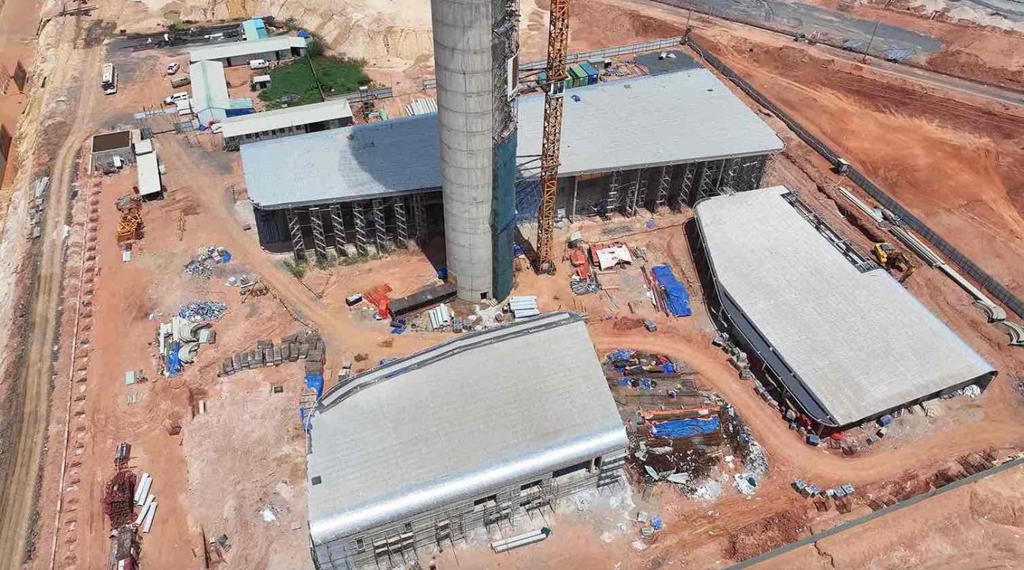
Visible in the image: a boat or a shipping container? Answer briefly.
shipping container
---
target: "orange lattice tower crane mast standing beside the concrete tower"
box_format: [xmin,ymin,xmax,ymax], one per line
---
[510,0,569,275]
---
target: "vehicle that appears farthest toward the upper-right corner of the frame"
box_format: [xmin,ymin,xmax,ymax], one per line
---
[796,28,810,40]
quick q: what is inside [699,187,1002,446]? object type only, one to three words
building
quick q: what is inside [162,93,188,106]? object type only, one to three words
vehicle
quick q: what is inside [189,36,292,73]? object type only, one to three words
building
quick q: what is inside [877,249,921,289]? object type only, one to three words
work vehicle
